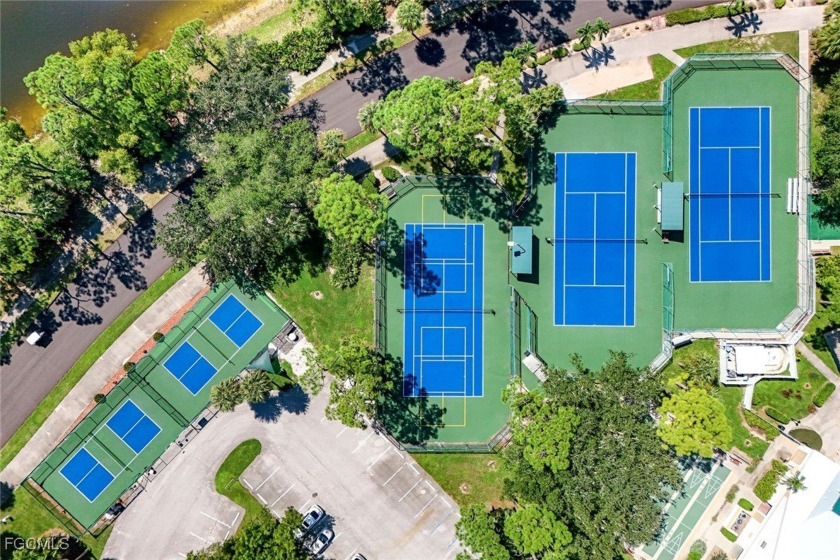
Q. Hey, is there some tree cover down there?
Yes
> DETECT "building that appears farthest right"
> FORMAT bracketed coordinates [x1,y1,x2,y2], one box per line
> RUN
[808,321,840,376]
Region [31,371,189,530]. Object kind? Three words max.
sports court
